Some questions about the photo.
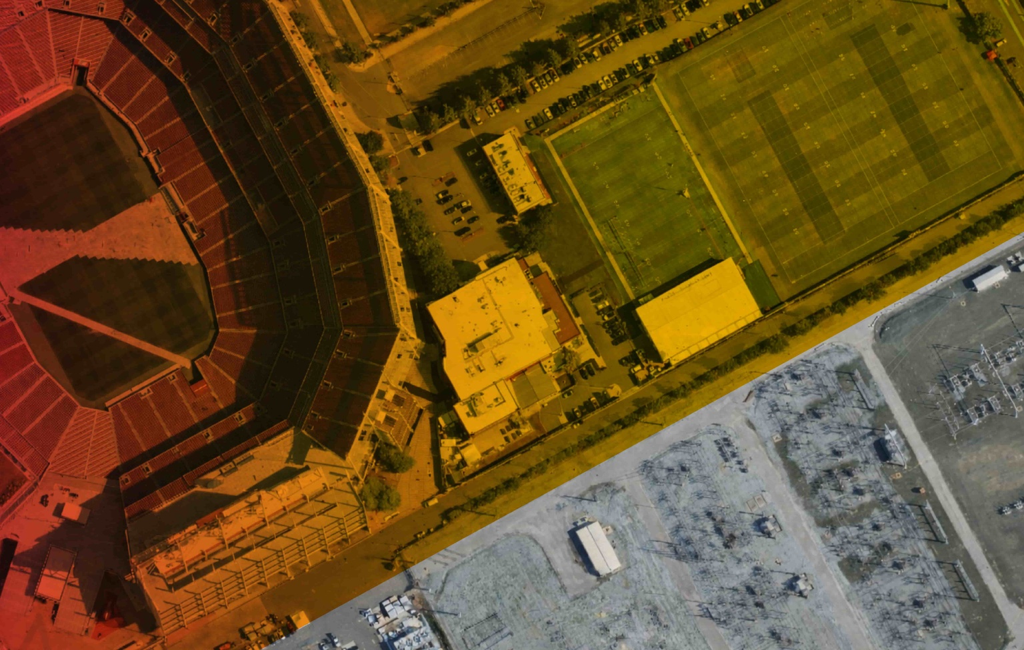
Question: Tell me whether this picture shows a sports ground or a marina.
sports ground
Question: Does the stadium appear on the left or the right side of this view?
left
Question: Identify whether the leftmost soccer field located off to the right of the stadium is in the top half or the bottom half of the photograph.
top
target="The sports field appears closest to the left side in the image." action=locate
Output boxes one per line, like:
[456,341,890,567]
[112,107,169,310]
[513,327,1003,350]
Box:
[0,85,217,408]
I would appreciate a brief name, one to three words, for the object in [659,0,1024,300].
soccer field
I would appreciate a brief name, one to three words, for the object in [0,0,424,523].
stadium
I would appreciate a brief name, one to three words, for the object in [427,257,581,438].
building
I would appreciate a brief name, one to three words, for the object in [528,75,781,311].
soccer field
